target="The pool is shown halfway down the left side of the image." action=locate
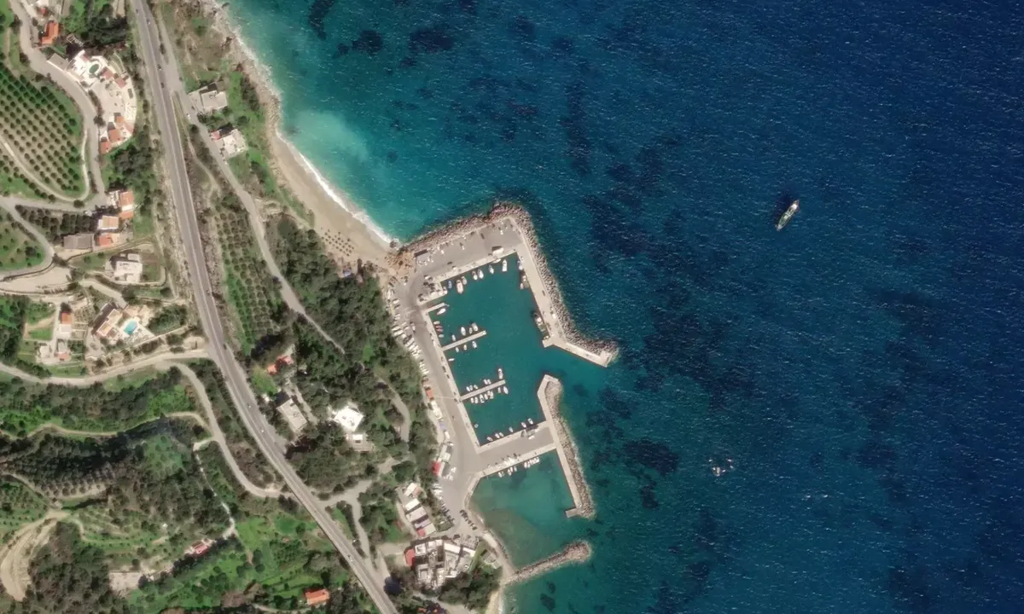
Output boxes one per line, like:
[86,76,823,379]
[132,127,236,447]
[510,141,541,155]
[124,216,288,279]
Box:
[121,319,137,335]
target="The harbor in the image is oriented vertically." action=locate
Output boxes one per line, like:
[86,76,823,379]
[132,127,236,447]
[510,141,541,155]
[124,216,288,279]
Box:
[383,200,556,535]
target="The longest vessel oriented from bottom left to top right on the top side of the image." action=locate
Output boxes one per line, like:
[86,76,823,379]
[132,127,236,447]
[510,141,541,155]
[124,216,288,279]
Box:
[776,200,798,230]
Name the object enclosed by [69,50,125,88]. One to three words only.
house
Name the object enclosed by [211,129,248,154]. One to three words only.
building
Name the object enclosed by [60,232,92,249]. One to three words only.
shed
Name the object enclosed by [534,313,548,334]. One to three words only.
boat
